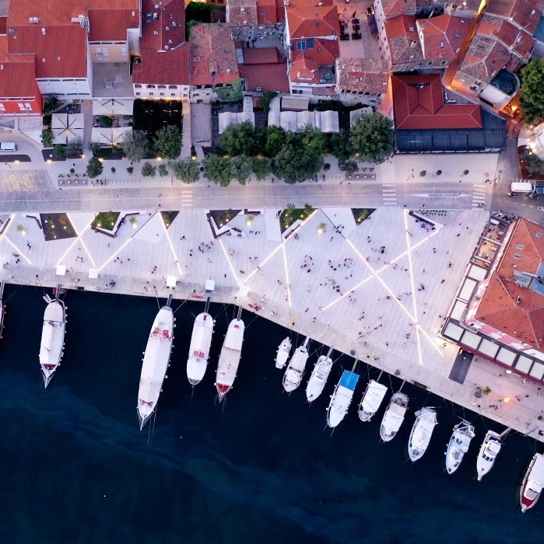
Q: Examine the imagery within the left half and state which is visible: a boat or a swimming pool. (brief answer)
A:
boat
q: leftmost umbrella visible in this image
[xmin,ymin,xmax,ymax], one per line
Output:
[52,113,83,144]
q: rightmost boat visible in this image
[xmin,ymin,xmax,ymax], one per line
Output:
[517,444,544,521]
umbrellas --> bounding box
[93,99,133,114]
[92,127,132,144]
[134,100,157,123]
[367,15,379,33]
[52,113,83,144]
[159,100,181,123]
[135,124,157,145]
